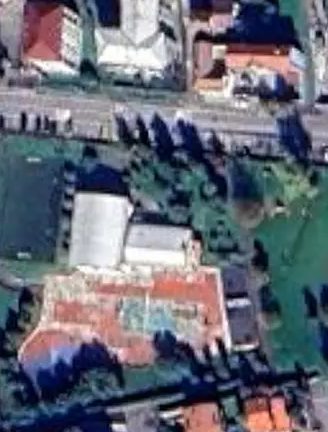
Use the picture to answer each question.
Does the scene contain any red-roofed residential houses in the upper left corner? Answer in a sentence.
Yes, I can see a red-roofed residential house in the upper left corner.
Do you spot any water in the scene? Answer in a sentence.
No, water can't be seen anywhere here.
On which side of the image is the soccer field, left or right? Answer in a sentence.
The soccer field appears in the left half of the scene.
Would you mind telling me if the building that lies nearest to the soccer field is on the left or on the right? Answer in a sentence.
It is on the left.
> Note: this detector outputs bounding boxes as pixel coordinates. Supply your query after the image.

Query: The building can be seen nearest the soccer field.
[69,194,141,272]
